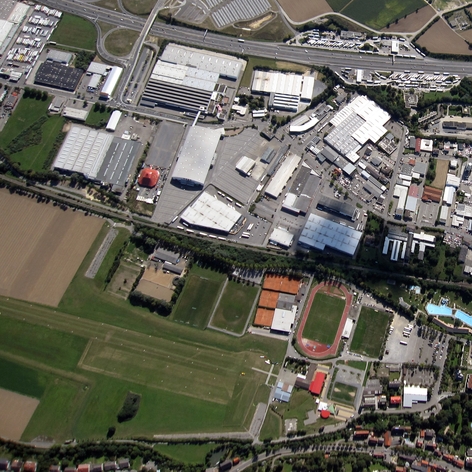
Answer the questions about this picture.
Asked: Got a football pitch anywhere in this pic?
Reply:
Yes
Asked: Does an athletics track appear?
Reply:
Yes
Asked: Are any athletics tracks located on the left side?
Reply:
No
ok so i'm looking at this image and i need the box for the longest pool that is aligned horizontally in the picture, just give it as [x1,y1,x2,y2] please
[424,301,456,316]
